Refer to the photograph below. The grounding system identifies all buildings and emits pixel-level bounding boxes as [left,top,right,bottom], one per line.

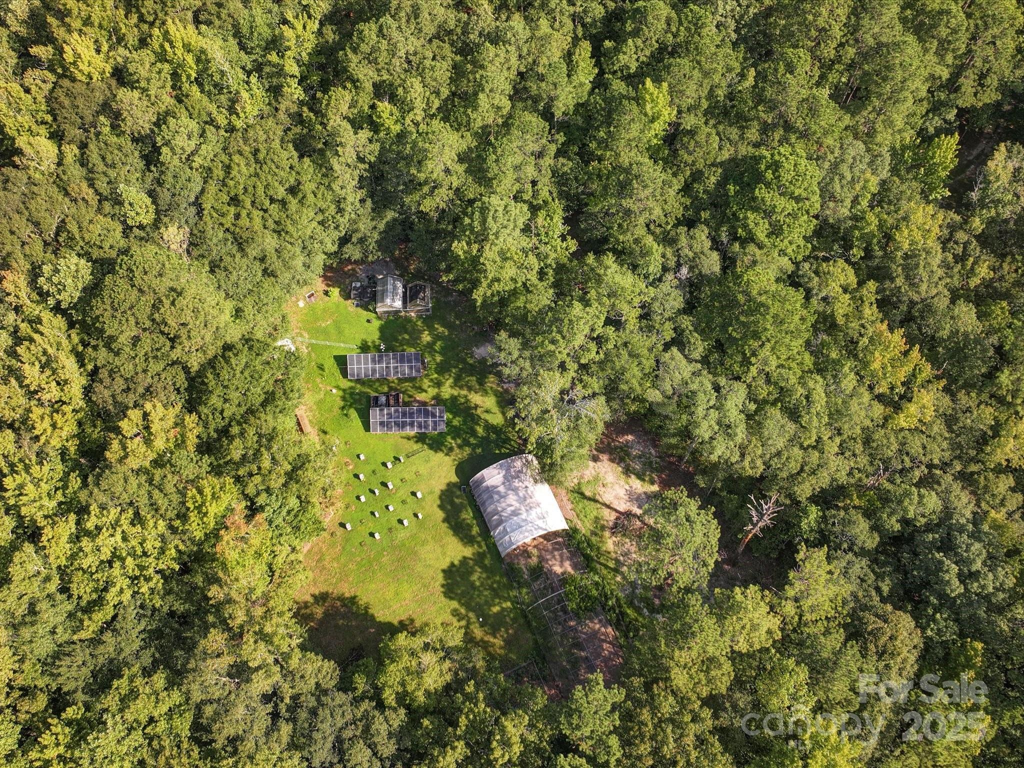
[469,452,630,695]
[376,275,404,316]
[403,281,431,314]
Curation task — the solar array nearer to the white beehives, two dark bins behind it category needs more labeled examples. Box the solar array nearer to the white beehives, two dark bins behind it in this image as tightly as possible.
[370,407,446,433]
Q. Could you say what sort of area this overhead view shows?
forest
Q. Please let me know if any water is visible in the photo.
No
